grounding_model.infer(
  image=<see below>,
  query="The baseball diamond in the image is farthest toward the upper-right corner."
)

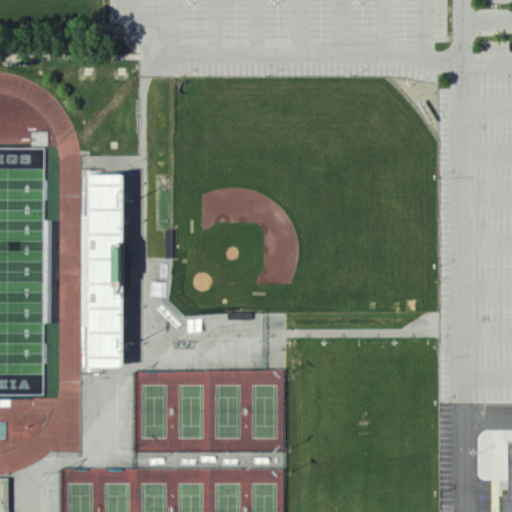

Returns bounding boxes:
[172,78,438,316]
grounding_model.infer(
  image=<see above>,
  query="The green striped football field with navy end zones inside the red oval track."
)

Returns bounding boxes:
[0,144,59,398]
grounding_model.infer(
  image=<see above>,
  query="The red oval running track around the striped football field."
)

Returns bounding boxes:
[0,73,81,474]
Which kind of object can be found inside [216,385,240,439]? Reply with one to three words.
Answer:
tennis court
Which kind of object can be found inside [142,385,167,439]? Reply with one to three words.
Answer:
tennis court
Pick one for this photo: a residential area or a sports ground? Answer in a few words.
sports ground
